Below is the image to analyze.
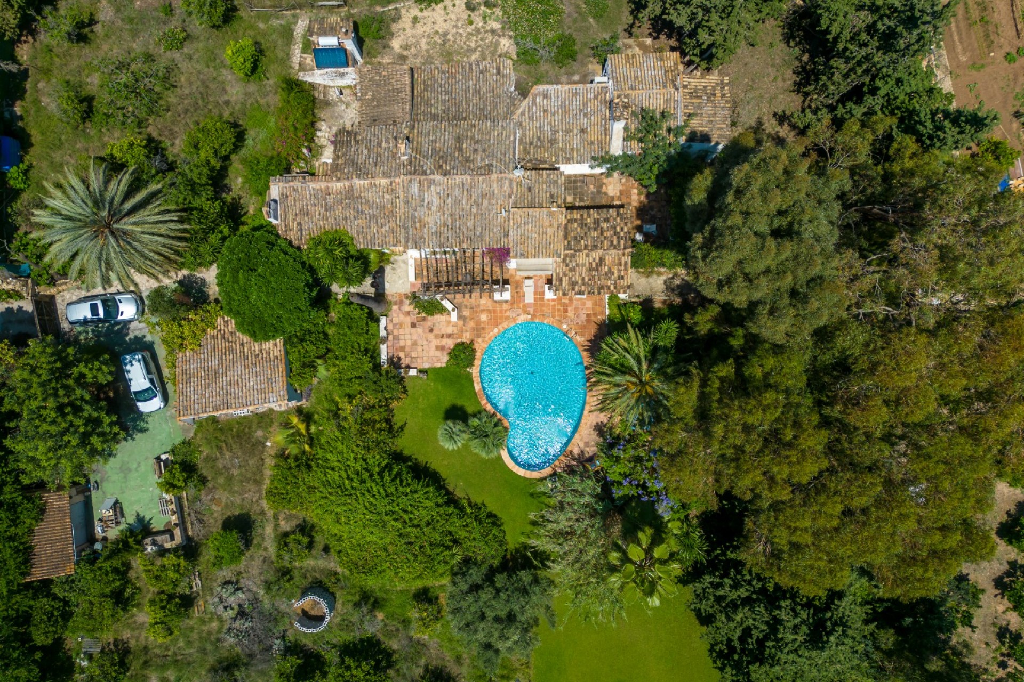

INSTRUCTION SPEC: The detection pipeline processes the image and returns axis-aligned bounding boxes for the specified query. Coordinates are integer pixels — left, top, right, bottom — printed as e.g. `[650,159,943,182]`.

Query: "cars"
[120,349,172,414]
[63,291,149,326]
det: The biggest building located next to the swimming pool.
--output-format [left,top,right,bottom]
[264,49,732,296]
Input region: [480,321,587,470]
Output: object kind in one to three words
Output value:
swimming pool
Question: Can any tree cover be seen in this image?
Yes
